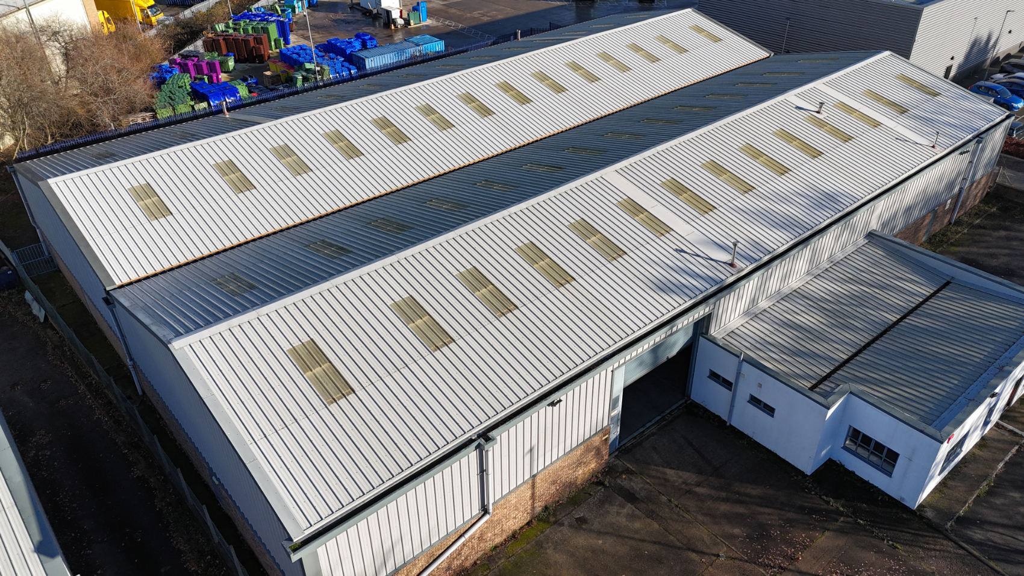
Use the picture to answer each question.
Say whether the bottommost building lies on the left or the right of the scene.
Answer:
left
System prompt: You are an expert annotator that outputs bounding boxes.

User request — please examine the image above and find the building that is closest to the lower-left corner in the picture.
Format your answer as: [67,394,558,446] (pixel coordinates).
[0,399,81,576]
